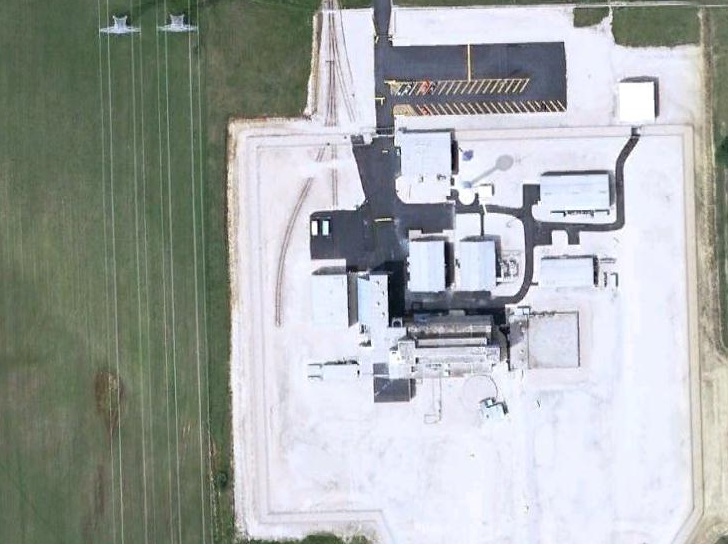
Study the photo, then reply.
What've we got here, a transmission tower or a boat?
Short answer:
transmission tower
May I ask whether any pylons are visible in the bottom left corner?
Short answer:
No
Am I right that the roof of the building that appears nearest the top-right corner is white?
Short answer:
Yes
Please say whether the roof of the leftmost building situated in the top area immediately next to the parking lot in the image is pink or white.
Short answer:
white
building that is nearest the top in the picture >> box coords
[619,80,655,122]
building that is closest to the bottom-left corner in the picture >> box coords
[322,360,359,379]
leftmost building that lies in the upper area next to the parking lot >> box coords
[400,132,452,197]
